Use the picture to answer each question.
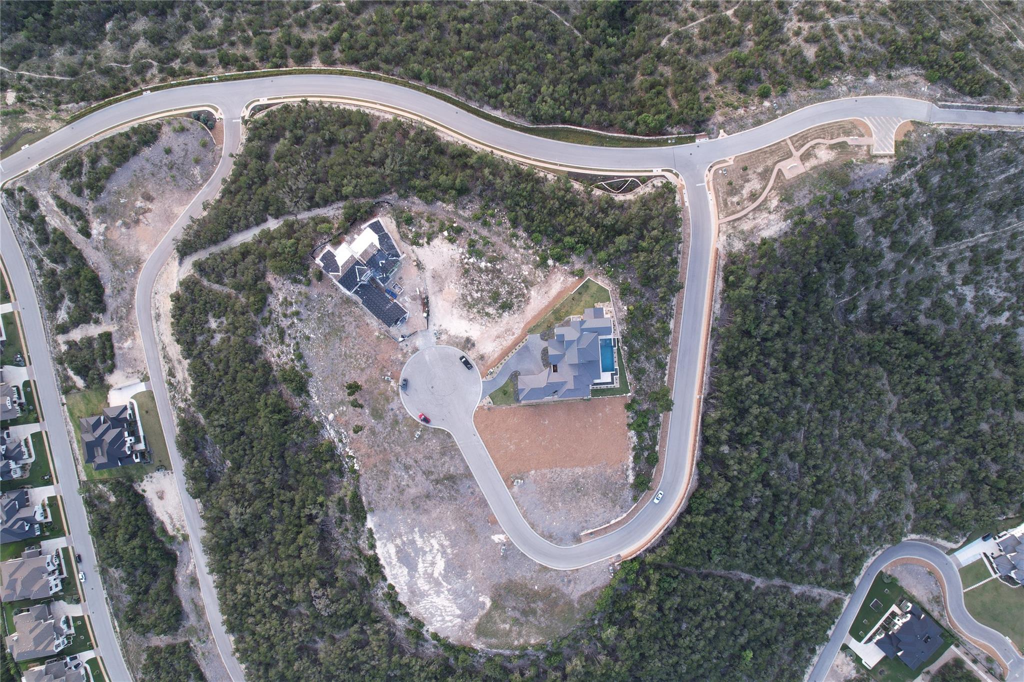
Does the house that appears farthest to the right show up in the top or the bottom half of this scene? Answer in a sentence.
It is in the bottom half that the house that appears farthest to the right appears.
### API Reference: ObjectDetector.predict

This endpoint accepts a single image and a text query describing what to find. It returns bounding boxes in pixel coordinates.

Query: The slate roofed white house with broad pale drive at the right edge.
[987,524,1024,585]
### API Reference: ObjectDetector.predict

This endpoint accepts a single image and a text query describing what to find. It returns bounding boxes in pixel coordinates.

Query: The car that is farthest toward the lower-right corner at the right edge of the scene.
[981,532,996,544]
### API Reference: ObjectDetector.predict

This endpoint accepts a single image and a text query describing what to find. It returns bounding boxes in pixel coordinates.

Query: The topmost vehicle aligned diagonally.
[458,355,473,371]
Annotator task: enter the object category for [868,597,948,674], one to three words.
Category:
house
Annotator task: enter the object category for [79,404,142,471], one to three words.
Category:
house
